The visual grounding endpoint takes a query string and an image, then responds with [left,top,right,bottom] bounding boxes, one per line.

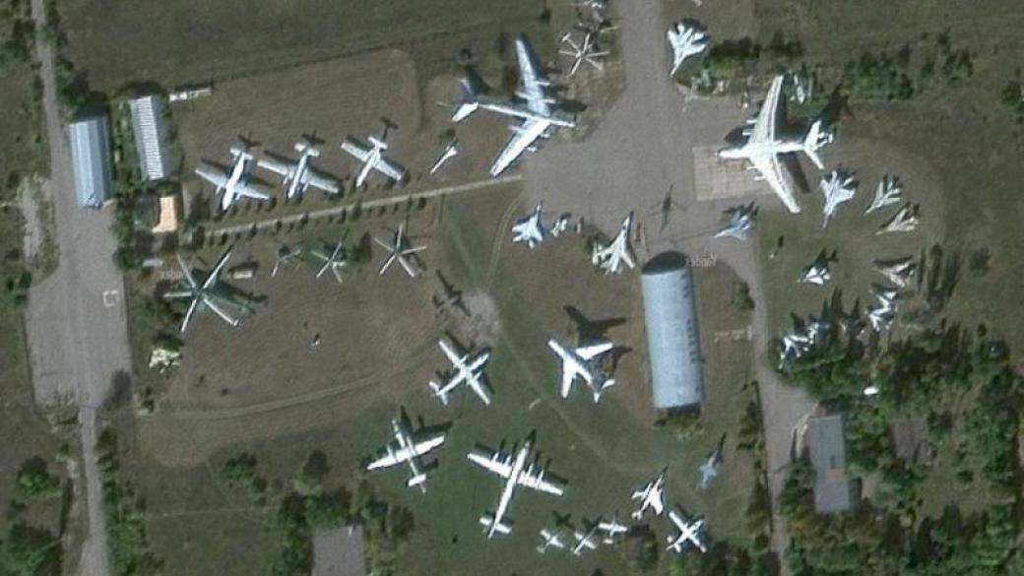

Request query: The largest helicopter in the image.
[160,252,250,335]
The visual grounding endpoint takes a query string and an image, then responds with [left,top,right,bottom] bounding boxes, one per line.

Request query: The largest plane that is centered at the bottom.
[466,440,560,539]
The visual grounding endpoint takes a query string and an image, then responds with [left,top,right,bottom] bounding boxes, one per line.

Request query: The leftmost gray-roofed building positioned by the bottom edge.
[312,528,371,576]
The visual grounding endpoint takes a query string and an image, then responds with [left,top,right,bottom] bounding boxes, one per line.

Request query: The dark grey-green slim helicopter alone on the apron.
[645,181,688,236]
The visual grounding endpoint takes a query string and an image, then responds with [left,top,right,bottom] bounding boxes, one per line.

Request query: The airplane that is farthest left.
[195,147,269,211]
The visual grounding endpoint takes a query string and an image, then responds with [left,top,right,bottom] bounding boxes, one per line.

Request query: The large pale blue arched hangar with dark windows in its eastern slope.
[643,267,707,408]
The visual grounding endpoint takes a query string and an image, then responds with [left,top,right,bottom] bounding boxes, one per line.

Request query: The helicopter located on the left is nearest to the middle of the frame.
[375,224,424,279]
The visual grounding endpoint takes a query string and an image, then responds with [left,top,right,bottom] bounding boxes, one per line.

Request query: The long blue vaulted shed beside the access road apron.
[68,116,119,208]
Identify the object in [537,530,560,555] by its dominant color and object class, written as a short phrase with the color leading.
white airplane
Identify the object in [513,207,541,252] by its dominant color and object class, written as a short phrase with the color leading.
white airplane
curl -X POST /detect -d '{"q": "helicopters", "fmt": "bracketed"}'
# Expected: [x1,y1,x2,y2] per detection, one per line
[269,243,302,276]
[160,252,250,335]
[645,181,688,236]
[313,241,357,284]
[555,26,608,80]
[375,224,424,279]
[573,3,616,53]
